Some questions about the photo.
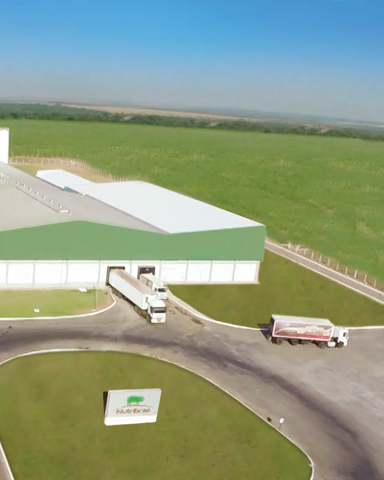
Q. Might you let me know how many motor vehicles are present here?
3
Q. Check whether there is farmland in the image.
Yes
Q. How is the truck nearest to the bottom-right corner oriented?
horizontally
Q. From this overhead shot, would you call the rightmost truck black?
No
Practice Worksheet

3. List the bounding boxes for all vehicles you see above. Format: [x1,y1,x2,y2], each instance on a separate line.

[141,270,179,301]
[111,266,173,319]
[270,313,352,348]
